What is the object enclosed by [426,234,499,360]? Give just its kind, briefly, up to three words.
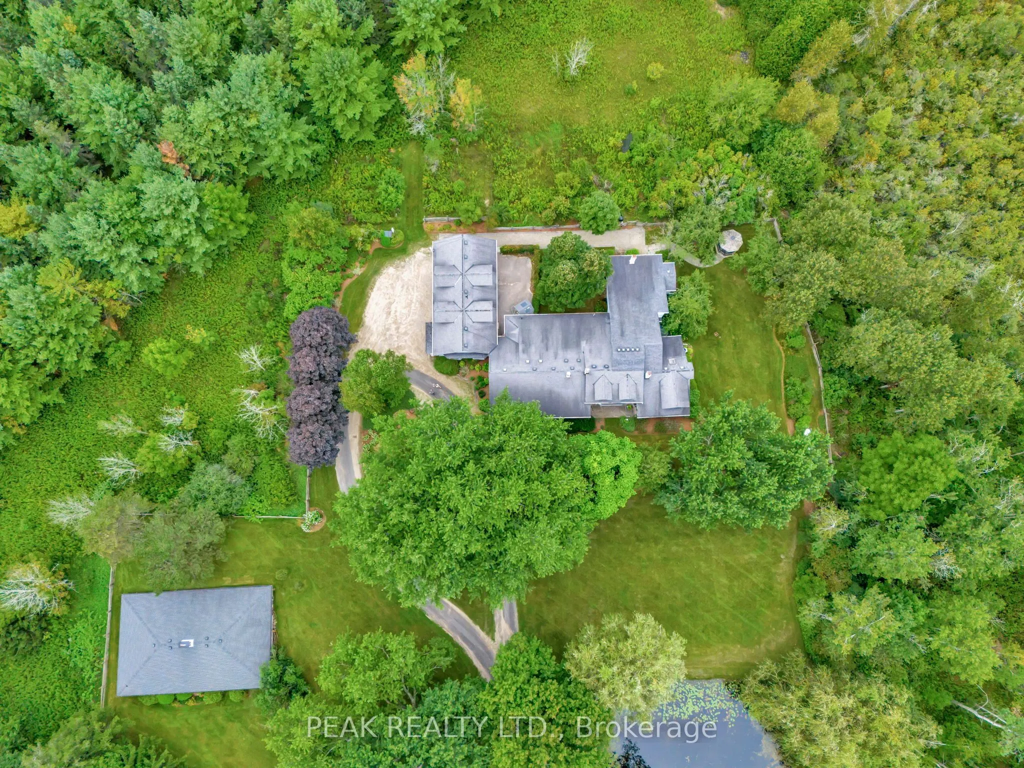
building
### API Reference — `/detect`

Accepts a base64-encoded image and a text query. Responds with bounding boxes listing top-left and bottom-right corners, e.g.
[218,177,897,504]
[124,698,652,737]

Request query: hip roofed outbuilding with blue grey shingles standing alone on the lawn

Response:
[116,585,277,697]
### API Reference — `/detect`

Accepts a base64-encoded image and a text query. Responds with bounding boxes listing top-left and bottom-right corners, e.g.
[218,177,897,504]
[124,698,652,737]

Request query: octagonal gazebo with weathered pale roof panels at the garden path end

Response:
[713,233,745,264]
